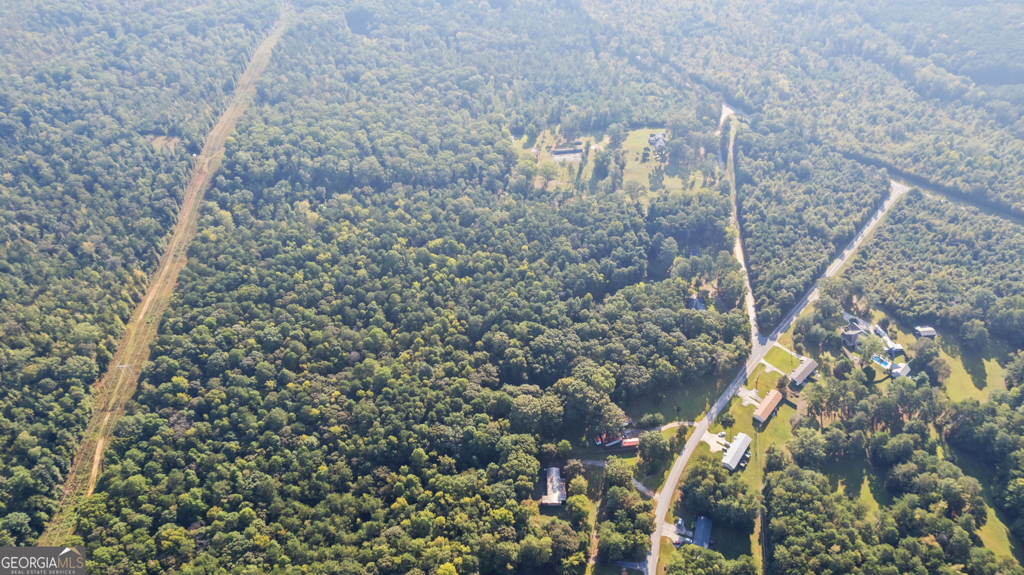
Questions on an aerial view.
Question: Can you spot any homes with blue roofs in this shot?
Yes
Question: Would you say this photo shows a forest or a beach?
forest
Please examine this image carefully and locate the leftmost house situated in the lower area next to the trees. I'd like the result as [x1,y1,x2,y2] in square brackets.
[542,467,567,509]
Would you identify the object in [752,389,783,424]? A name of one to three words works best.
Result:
house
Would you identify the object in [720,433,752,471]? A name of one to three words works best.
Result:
house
